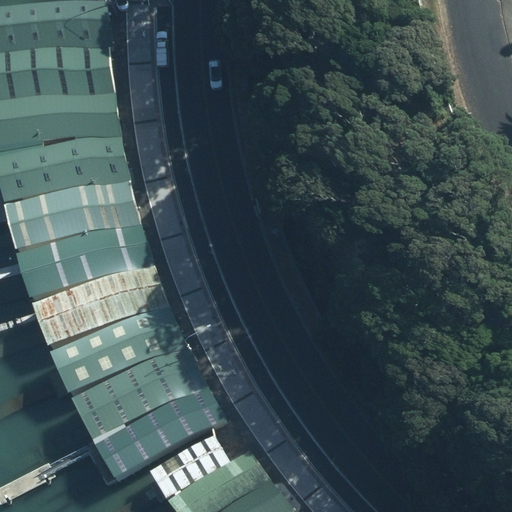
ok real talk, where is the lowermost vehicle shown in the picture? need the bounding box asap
[208,60,222,90]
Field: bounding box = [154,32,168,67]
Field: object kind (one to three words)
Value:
vehicle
